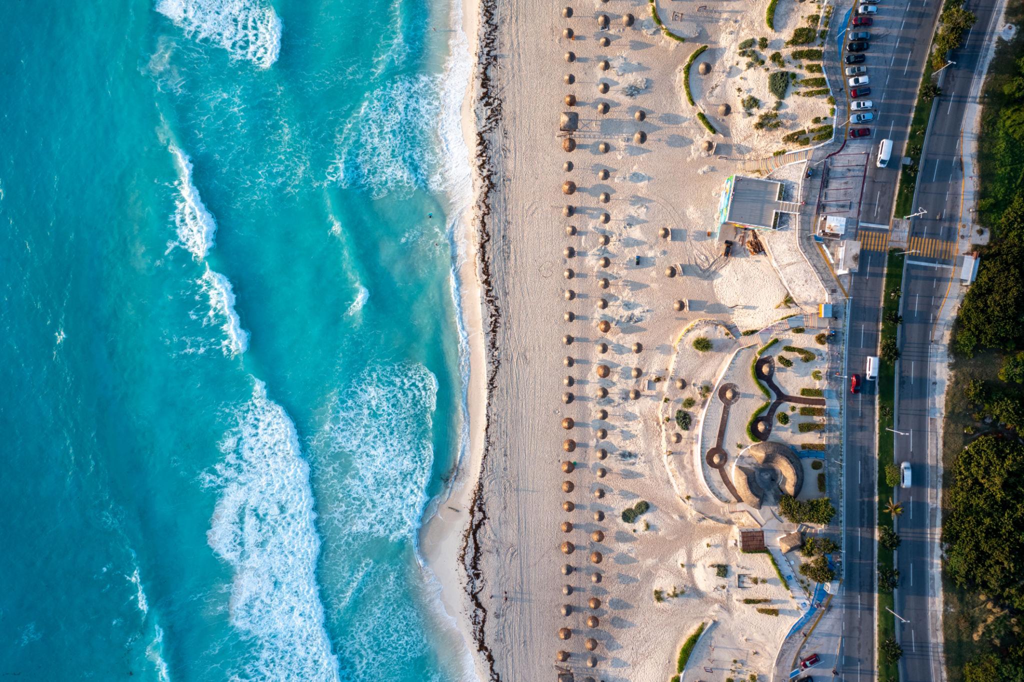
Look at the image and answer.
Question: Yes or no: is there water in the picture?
Yes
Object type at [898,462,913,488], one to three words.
vehicle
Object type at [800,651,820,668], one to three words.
car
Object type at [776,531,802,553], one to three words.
shed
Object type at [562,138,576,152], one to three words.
umbrella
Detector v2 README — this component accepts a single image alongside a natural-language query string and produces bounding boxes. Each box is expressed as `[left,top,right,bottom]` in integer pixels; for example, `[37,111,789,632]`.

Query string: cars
[850,100,872,111]
[849,87,871,99]
[850,374,862,394]
[848,76,870,87]
[800,651,820,668]
[852,16,872,27]
[848,30,870,42]
[845,65,867,77]
[848,128,870,138]
[857,4,878,15]
[858,0,879,6]
[844,54,865,65]
[849,112,874,124]
[795,674,815,682]
[846,41,868,53]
